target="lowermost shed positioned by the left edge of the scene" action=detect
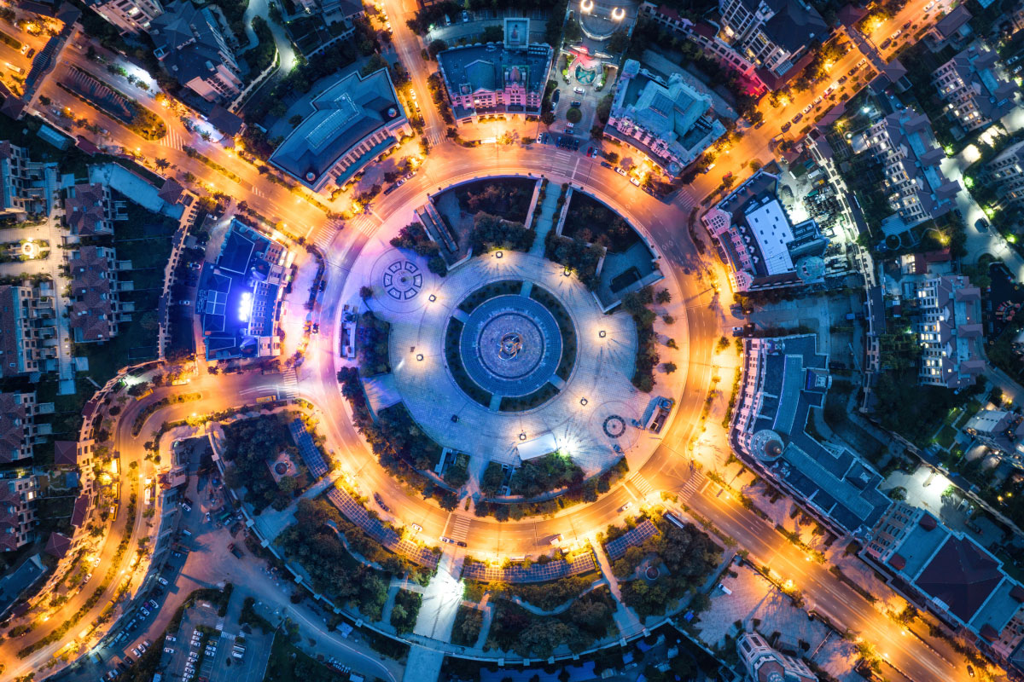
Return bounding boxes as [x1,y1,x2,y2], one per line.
[0,554,54,620]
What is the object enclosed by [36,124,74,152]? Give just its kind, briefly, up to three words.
greenhouse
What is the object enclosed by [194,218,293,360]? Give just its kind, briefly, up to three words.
building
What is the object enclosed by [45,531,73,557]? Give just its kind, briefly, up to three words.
building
